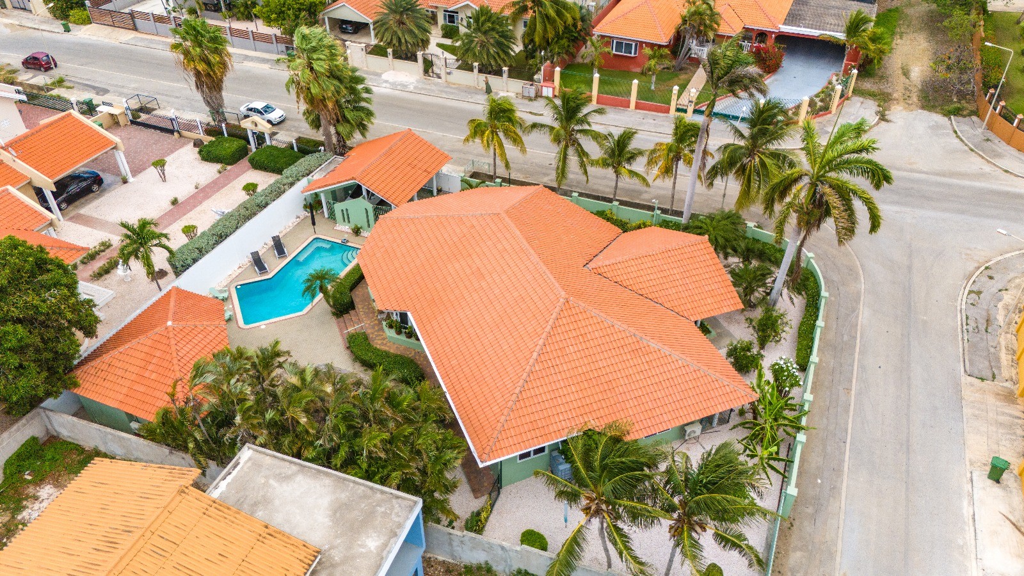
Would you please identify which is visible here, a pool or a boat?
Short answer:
pool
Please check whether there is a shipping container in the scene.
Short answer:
No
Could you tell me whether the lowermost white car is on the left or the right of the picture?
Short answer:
left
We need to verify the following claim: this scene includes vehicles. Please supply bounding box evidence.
[32,172,101,211]
[18,50,55,71]
[236,101,287,125]
[335,18,371,37]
